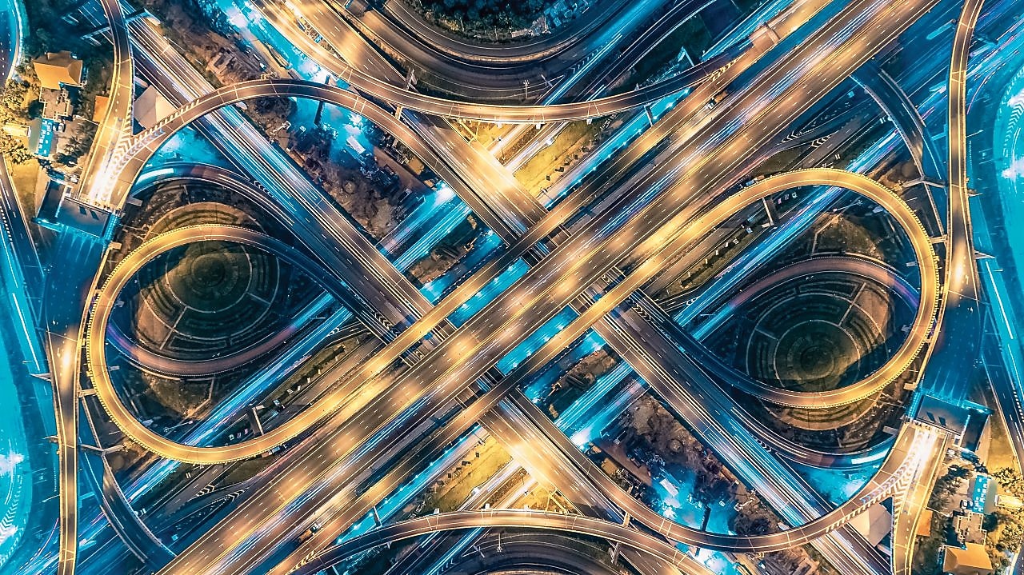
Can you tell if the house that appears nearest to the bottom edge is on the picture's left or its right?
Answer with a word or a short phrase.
right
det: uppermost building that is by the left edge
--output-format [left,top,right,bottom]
[33,49,88,92]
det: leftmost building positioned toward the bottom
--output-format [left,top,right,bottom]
[850,505,892,547]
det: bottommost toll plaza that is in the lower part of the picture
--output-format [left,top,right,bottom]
[904,392,969,436]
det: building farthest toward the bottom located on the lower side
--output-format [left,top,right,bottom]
[937,540,992,575]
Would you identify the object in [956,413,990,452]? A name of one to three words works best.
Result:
building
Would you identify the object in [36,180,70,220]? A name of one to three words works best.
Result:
building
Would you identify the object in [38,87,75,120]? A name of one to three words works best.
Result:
house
